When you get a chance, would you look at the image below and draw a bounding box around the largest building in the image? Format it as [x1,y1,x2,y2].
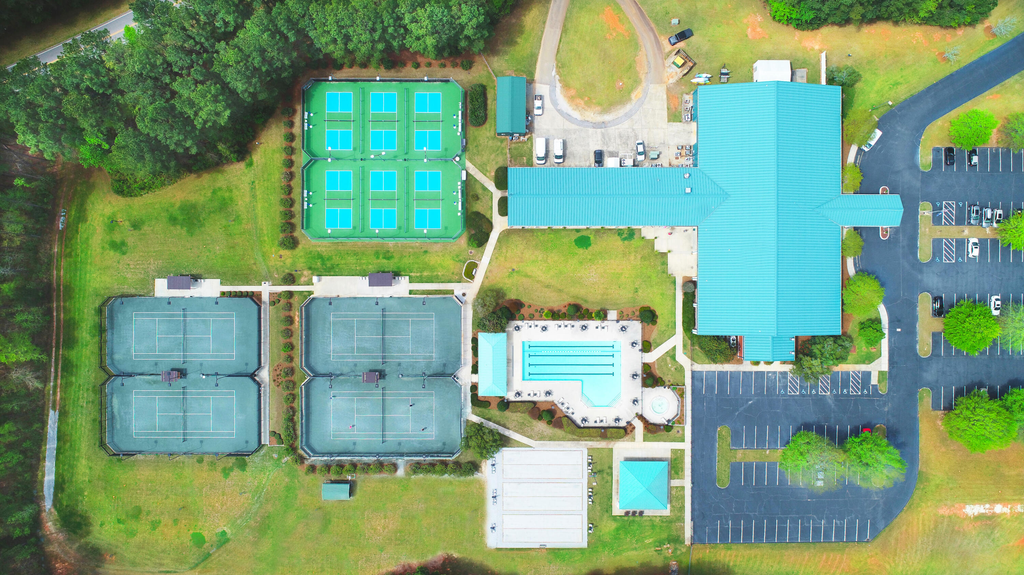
[507,80,904,362]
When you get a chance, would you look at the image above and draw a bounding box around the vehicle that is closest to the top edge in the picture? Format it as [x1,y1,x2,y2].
[668,28,692,45]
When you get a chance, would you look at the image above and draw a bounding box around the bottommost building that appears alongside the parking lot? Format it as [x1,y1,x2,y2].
[619,460,668,510]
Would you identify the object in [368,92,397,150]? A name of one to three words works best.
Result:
sports court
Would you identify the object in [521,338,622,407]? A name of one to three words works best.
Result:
swimming pool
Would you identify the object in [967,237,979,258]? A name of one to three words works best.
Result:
vehicle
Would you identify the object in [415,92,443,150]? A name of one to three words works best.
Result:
sports court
